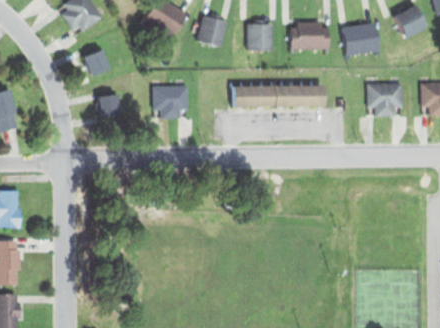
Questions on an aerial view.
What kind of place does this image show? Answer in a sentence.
The area seen from above is a residential area.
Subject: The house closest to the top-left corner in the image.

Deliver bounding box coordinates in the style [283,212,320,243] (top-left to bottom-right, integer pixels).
[62,0,102,34]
